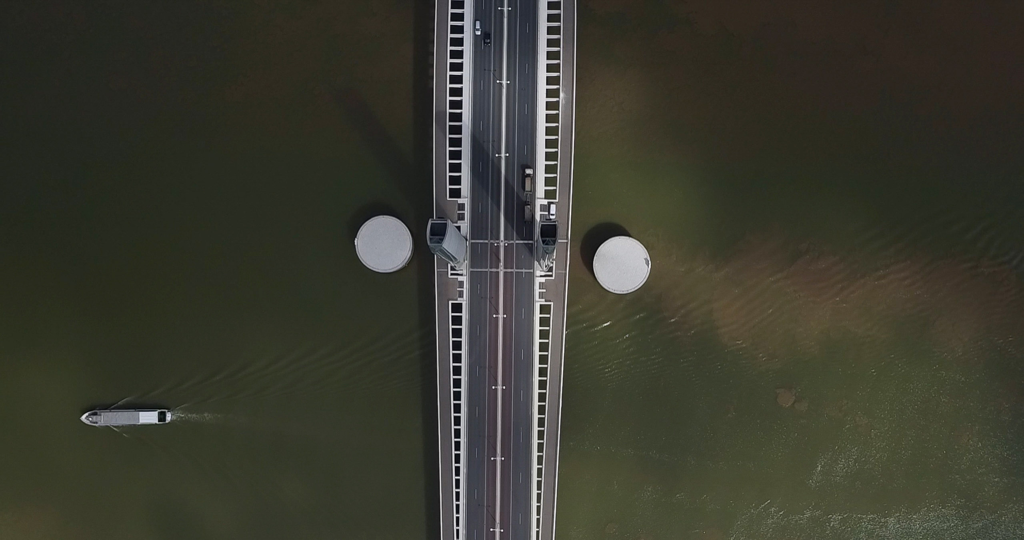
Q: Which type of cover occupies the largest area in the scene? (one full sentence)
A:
The largest share of the image is taken up by water.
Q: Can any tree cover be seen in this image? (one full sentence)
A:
No, the scene doesn't show any tree cover.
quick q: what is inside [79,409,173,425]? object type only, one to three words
vessel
